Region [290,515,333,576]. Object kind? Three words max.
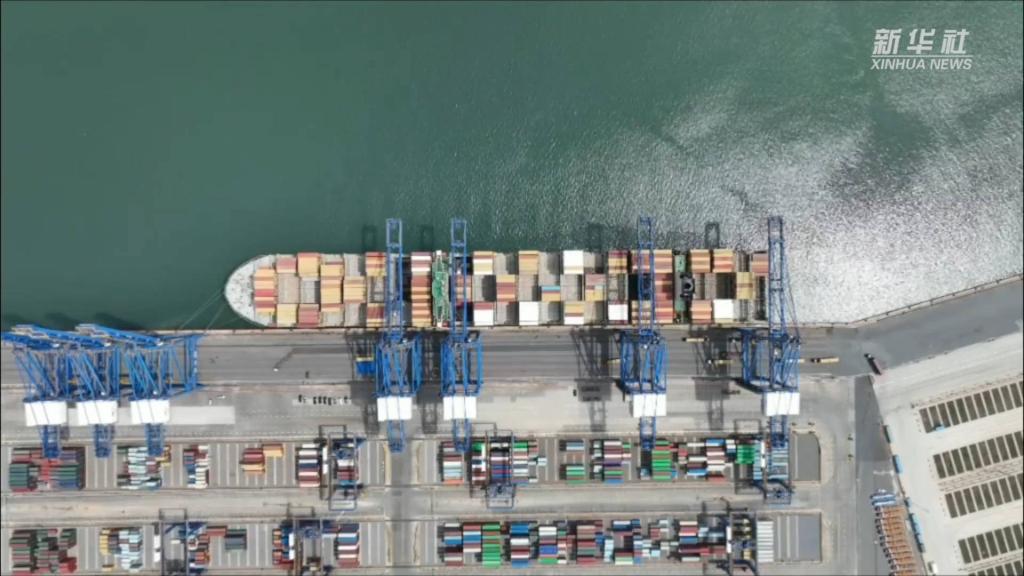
container crane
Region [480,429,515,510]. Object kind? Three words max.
container crane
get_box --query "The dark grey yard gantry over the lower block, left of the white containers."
[718,509,760,576]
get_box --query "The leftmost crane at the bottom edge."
[156,517,205,576]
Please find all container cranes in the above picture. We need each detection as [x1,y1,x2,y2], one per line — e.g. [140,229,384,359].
[12,323,155,455]
[324,430,366,512]
[376,219,428,452]
[290,515,333,576]
[733,215,804,447]
[614,216,671,449]
[440,218,487,451]
[0,331,110,456]
[74,323,204,454]
[156,517,205,576]
[480,429,515,510]
[718,509,760,576]
[751,423,794,505]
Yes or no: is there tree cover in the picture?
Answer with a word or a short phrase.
No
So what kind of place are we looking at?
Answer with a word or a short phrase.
port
